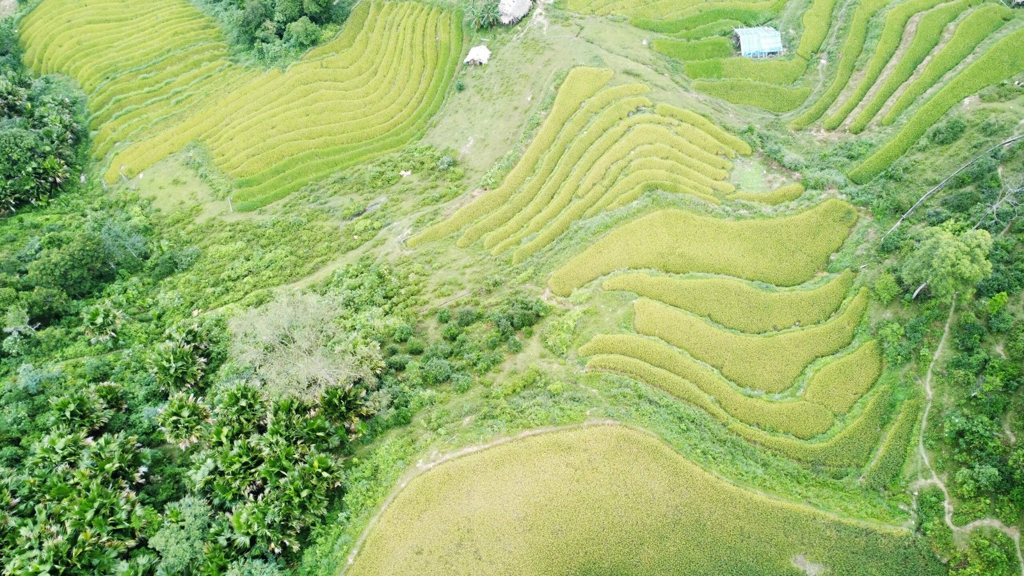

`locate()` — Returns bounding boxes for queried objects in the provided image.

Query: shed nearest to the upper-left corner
[461,47,495,71]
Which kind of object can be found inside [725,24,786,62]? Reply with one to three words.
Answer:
shed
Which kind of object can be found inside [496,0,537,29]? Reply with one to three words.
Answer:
building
